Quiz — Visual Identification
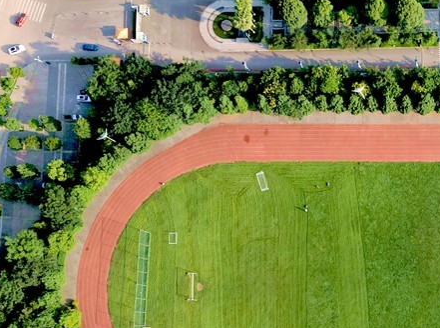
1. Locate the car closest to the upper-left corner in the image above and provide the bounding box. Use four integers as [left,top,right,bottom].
[12,11,25,27]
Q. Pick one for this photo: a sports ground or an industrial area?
sports ground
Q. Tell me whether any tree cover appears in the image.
Yes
